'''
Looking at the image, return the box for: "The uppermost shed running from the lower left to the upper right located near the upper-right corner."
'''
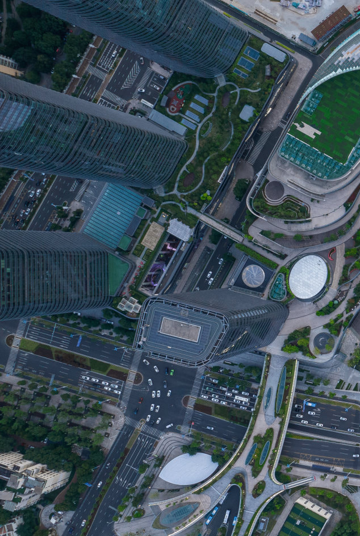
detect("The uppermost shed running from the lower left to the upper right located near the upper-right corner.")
[311,5,353,41]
